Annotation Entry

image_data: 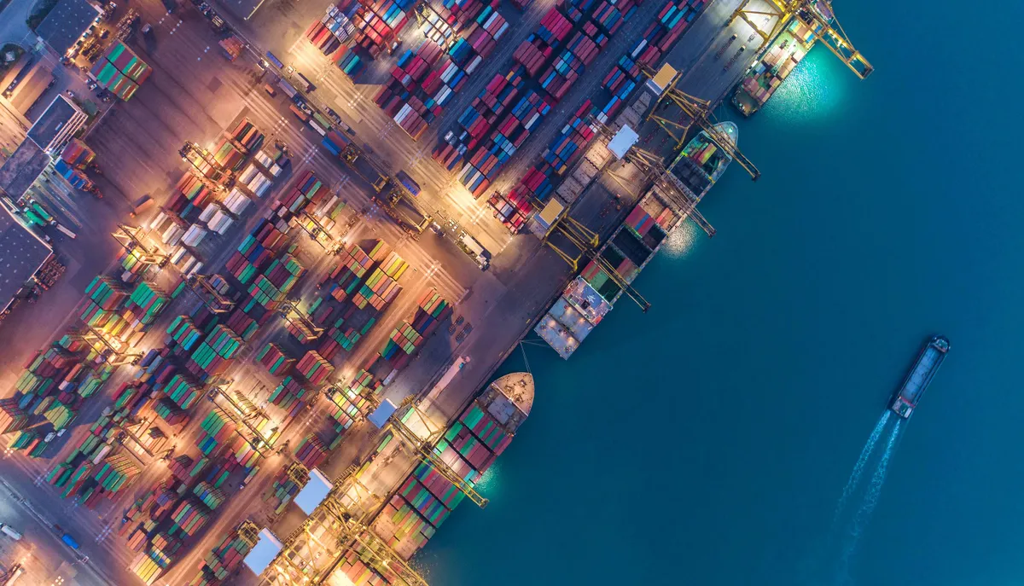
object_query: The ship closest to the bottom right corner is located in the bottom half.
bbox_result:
[890,337,947,418]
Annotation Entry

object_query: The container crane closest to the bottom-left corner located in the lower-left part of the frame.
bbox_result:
[118,427,179,468]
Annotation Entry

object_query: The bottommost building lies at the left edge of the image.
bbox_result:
[0,196,60,314]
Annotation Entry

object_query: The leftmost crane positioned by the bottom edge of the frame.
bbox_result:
[240,524,339,586]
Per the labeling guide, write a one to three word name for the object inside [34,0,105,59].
building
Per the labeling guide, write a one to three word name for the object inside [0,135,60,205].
building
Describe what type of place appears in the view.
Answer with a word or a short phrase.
port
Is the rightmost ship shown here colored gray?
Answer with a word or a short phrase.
No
